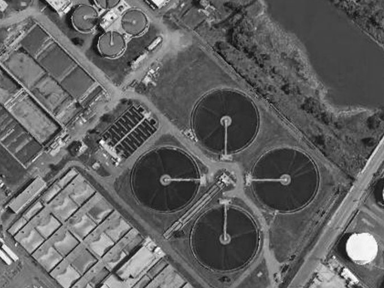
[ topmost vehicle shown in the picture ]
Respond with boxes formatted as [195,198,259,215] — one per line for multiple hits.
[146,35,163,49]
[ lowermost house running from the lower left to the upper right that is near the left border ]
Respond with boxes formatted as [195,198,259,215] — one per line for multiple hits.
[8,178,45,215]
